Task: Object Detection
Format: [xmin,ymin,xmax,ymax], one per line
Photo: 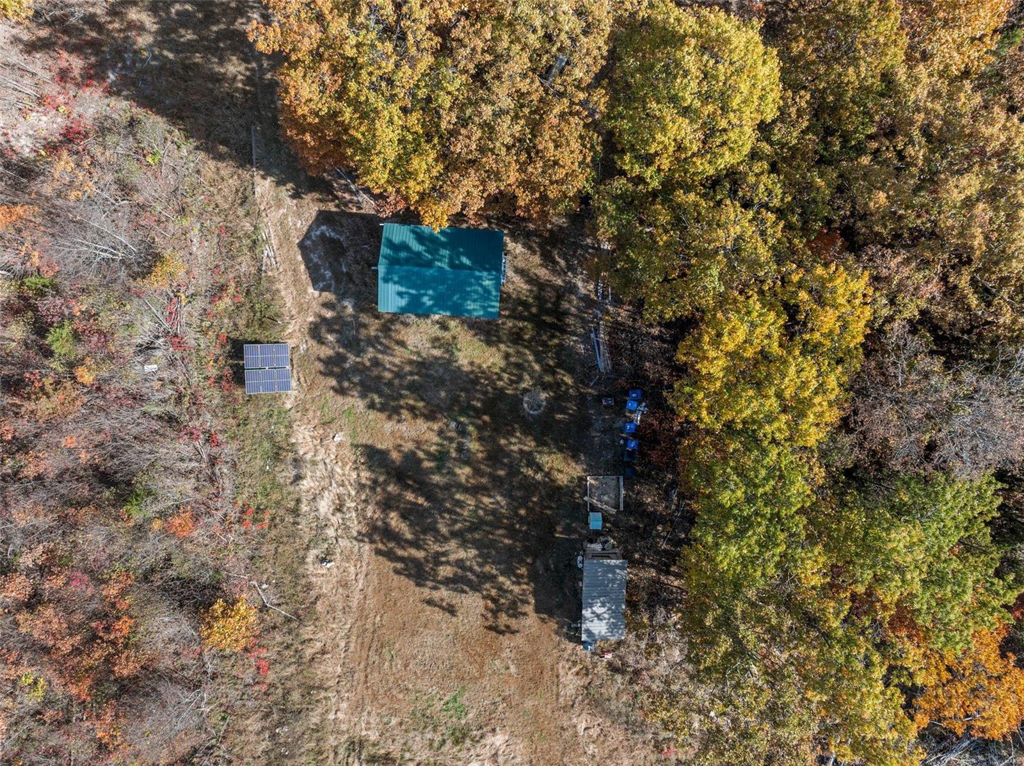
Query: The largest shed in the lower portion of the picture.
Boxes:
[580,553,628,642]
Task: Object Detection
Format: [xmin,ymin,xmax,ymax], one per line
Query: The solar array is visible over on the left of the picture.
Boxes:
[243,344,292,393]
